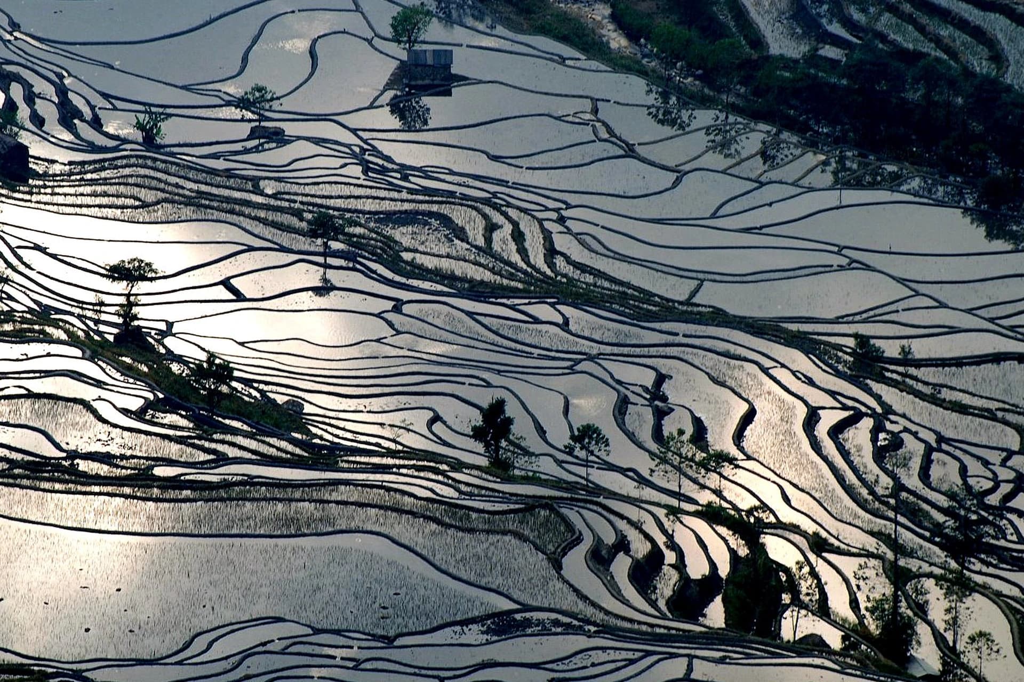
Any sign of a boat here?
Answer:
No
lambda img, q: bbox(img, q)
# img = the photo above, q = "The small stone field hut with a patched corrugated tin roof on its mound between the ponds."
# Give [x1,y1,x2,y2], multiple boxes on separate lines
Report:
[406,46,453,85]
